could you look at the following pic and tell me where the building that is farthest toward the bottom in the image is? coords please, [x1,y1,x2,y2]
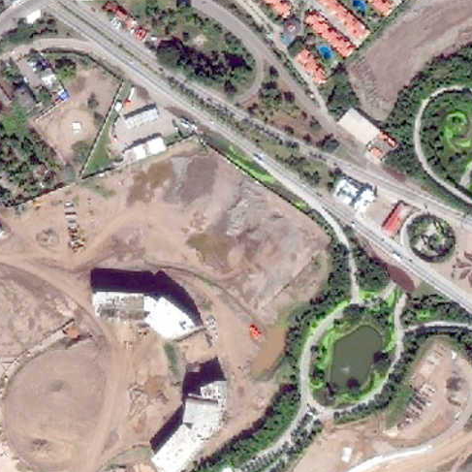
[151,423,203,472]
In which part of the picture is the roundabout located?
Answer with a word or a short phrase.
right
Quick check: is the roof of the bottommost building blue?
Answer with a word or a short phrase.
No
